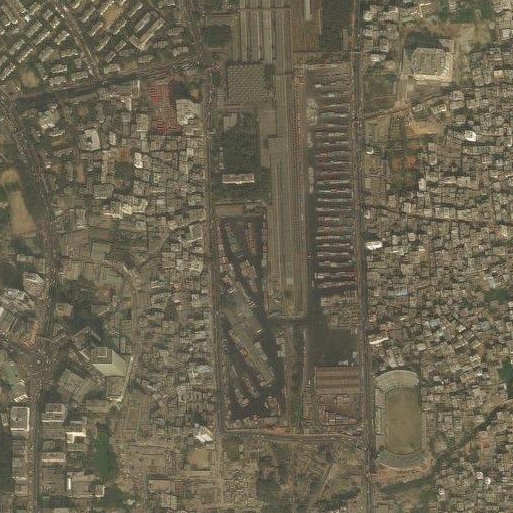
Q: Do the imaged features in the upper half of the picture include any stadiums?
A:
No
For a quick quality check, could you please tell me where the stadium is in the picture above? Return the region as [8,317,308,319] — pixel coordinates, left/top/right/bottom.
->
[374,369,428,468]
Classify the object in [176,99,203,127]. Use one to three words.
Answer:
building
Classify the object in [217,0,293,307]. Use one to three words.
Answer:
train station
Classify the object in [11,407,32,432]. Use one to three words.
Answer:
building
